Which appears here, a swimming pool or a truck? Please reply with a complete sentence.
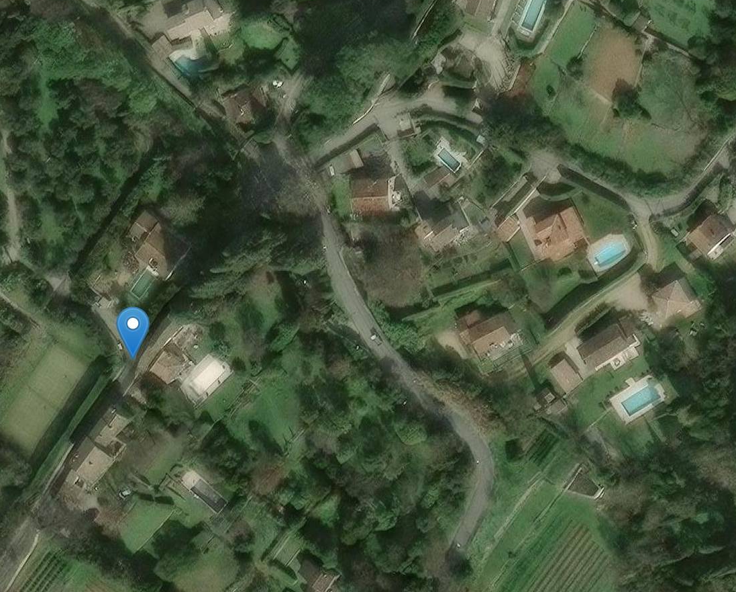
It is a swimming pool that can be seen here.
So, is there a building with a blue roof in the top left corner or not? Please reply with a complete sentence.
No, no building with a blue roof is visible in the top left corner.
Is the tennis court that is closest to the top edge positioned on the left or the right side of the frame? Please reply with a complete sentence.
You can find the tennis court that is closest to the top edge on the left side of the picture.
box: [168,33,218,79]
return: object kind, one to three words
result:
swimming pool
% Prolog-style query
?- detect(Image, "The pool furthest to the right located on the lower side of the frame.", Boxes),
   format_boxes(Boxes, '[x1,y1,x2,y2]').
[610,375,666,424]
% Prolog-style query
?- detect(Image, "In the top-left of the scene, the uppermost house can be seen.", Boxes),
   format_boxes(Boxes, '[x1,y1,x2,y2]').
[164,0,225,43]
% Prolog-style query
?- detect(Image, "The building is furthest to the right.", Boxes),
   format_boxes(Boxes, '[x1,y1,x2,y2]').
[686,211,735,260]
